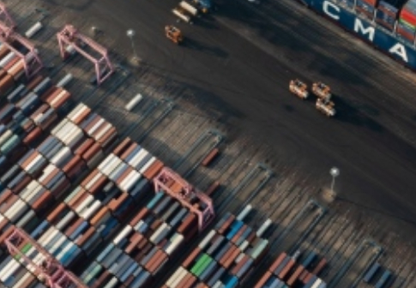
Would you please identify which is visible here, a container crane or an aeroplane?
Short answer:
container crane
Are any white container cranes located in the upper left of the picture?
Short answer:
No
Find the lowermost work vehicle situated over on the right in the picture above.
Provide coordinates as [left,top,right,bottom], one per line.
[320,96,340,119]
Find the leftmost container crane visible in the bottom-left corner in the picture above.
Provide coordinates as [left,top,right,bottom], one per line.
[2,227,68,288]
